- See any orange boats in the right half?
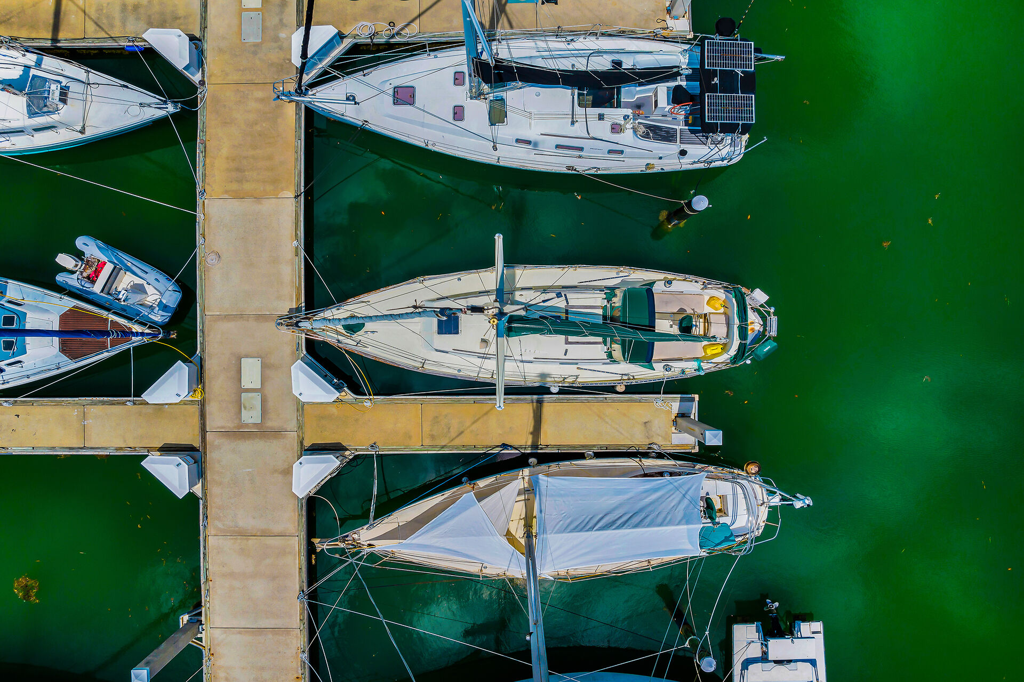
No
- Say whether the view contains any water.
Yes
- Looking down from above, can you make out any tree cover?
No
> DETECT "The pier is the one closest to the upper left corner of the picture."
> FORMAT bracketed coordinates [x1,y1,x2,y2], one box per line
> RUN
[0,0,200,88]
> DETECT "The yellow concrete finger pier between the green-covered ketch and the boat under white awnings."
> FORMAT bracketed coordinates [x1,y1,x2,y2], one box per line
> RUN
[303,348,699,502]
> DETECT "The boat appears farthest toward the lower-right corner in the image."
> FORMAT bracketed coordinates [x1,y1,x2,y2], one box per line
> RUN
[731,601,827,682]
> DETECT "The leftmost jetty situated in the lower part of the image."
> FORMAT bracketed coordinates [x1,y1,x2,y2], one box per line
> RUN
[0,349,201,501]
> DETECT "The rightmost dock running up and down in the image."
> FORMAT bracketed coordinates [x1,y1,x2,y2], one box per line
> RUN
[180,0,314,682]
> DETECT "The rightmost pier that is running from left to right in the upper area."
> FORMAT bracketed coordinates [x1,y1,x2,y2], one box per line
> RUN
[304,0,693,90]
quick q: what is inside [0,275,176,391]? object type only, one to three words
boat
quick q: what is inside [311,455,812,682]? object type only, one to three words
boat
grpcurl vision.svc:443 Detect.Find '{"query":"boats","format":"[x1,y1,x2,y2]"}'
[275,232,778,411]
[311,455,812,682]
[0,33,181,157]
[270,0,785,178]
[731,601,827,682]
[0,275,176,391]
[414,659,709,682]
[57,238,183,325]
